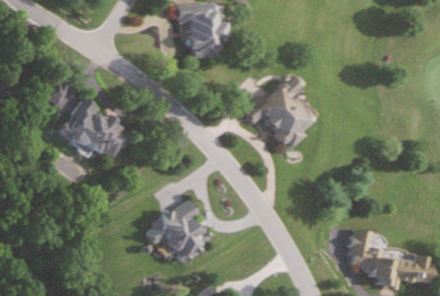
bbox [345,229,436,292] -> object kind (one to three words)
house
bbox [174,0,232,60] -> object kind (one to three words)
house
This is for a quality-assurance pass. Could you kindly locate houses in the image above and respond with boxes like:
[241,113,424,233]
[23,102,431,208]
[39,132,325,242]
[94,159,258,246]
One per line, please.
[247,76,312,151]
[174,0,232,60]
[345,229,436,292]
[56,98,128,156]
[144,198,210,264]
